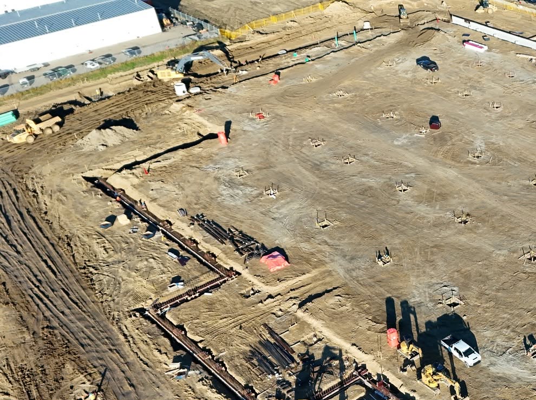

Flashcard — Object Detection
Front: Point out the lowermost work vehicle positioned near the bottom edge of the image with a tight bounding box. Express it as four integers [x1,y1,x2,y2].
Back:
[420,362,461,400]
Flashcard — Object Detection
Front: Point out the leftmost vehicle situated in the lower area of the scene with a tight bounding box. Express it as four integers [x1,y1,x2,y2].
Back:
[400,340,420,366]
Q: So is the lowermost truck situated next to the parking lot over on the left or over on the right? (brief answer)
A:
left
